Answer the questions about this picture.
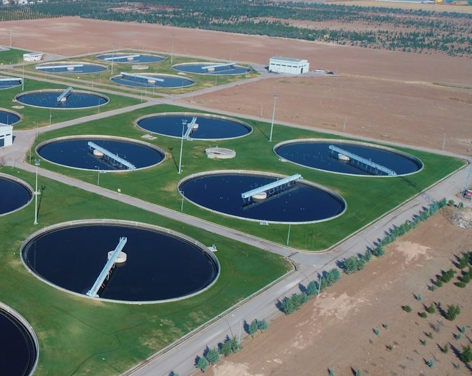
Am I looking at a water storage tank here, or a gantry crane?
water storage tank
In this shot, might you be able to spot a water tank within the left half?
Yes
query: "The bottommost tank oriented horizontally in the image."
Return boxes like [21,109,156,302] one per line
[21,221,220,308]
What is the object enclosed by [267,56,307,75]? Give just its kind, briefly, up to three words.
building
